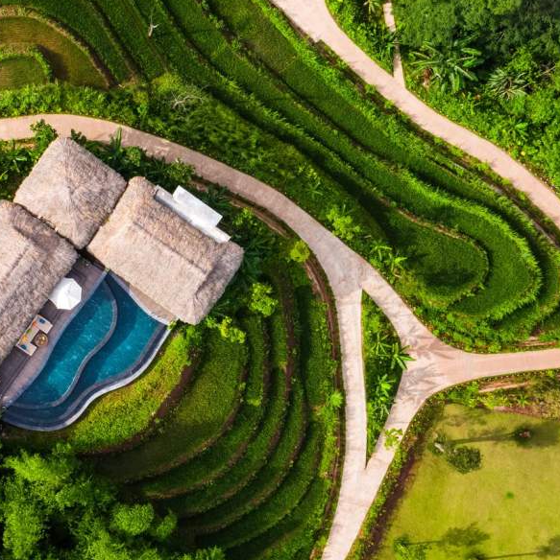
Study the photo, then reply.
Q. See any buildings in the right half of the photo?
No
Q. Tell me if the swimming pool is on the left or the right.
left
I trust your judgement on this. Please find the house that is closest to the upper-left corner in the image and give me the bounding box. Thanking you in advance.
[13,136,128,251]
